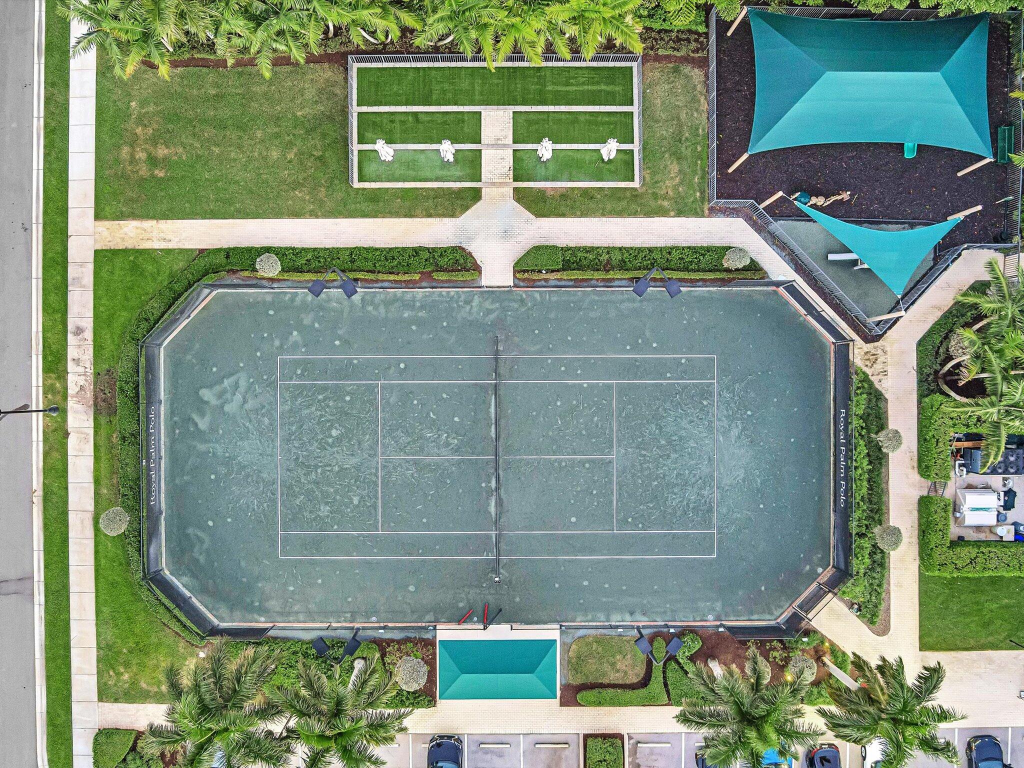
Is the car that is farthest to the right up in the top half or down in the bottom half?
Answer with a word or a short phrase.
bottom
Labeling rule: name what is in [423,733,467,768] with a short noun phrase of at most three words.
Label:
car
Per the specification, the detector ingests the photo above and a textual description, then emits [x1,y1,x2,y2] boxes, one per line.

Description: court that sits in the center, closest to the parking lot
[160,286,833,626]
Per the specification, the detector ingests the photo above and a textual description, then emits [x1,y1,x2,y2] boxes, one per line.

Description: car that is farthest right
[965,733,1015,768]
